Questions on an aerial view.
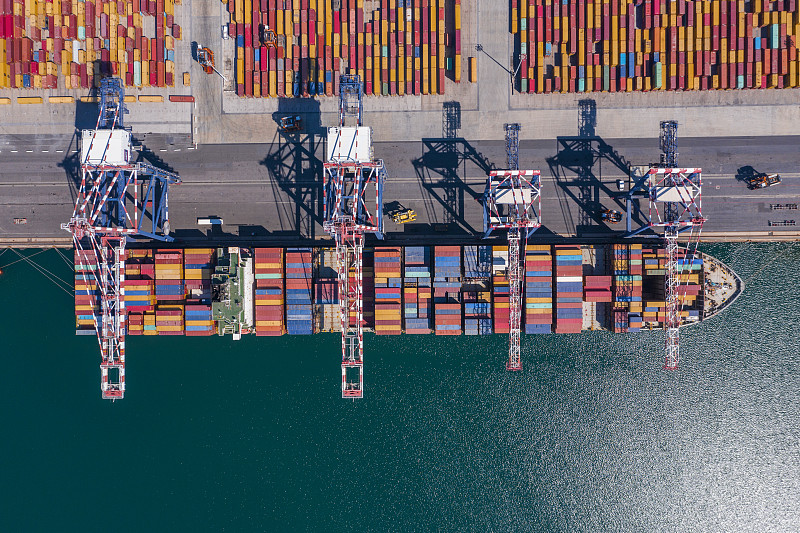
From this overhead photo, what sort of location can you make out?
port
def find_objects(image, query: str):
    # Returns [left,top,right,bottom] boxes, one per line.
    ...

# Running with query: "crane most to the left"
[61,78,184,406]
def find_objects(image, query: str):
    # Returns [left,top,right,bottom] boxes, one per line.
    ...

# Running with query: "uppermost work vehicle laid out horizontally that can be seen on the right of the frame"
[748,174,781,191]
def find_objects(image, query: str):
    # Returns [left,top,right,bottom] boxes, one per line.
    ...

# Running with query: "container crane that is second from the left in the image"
[321,76,393,404]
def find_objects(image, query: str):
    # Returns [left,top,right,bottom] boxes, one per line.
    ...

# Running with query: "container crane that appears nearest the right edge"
[605,119,714,370]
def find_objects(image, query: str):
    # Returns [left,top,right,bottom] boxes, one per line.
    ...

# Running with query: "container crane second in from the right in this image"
[466,120,547,372]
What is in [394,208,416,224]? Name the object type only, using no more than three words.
work vehicle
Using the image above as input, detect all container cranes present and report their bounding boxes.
[321,76,393,404]
[605,119,714,370]
[466,120,547,372]
[61,78,184,406]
